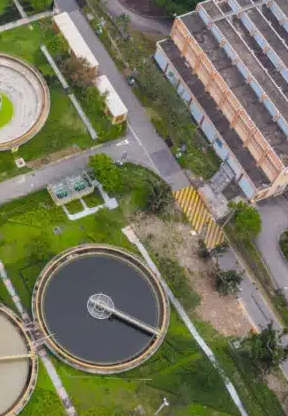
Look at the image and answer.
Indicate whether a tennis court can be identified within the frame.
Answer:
No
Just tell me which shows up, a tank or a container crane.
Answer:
tank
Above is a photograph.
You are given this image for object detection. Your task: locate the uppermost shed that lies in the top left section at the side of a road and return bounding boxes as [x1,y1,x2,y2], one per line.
[52,12,99,76]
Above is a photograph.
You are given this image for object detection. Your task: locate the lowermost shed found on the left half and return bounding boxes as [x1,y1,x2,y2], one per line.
[91,75,129,124]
